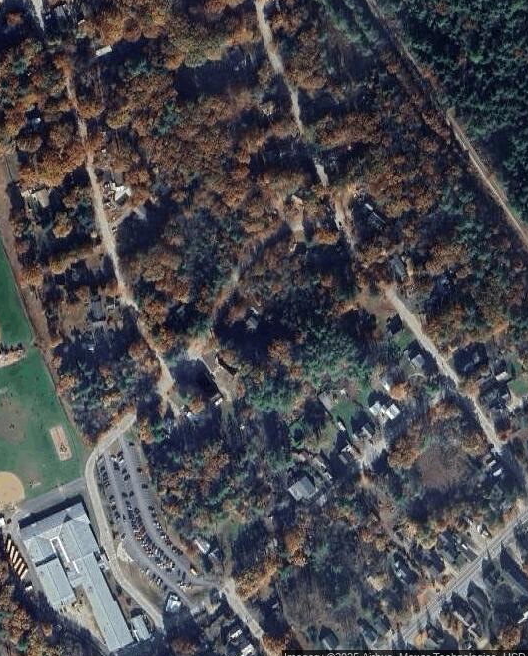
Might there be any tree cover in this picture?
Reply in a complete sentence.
Yes, there is tree cover in the image.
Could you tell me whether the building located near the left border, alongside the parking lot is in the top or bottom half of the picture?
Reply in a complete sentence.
You can find the building located near the left border, alongside the parking lot in the bottom half.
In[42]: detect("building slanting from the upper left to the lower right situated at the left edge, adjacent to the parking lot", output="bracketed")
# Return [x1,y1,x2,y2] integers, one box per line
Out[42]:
[20,502,134,653]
